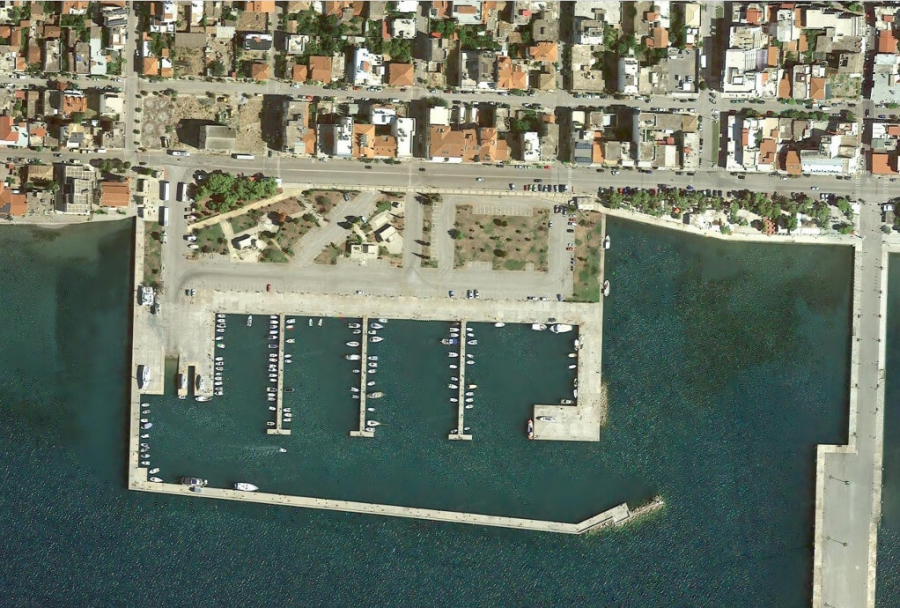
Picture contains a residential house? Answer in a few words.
Yes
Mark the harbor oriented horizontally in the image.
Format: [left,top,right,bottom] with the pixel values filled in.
[127,285,610,489]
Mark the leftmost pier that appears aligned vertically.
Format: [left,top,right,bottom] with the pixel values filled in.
[266,315,291,435]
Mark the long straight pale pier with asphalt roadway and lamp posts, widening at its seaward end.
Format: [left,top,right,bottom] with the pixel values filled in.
[811,236,887,608]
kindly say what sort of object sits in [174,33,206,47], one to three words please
shed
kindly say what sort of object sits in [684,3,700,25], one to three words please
house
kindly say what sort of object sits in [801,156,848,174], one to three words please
building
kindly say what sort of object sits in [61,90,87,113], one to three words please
house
